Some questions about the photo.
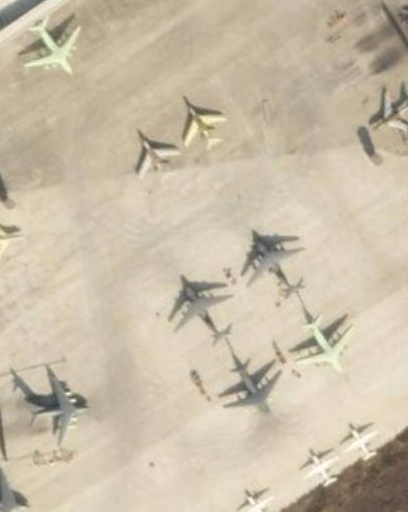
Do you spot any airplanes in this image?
Yes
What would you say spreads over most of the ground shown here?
paved ground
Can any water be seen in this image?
No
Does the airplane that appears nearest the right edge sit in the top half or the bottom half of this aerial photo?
top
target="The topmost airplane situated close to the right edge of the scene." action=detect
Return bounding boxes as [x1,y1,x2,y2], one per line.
[374,92,408,132]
